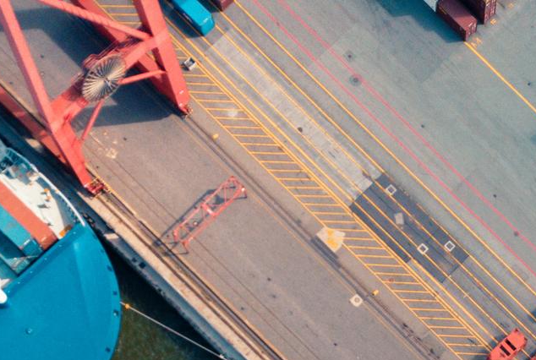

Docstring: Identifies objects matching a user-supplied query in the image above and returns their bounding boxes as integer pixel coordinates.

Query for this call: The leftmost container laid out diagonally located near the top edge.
[169,0,217,36]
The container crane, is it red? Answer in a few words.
Yes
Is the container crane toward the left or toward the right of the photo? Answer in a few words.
left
